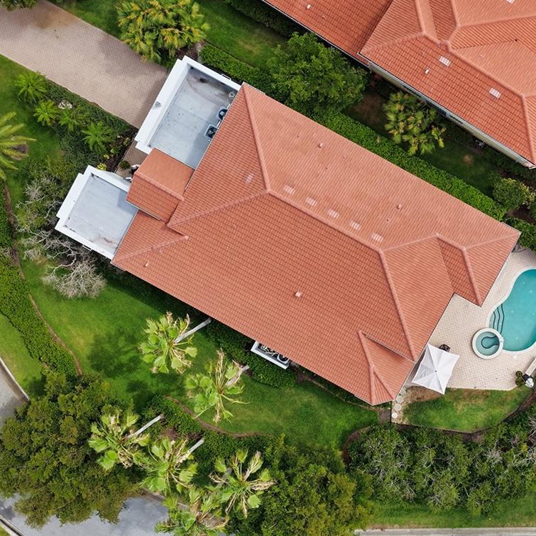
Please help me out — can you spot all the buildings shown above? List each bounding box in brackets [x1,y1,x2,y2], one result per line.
[55,56,521,405]
[262,0,536,166]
